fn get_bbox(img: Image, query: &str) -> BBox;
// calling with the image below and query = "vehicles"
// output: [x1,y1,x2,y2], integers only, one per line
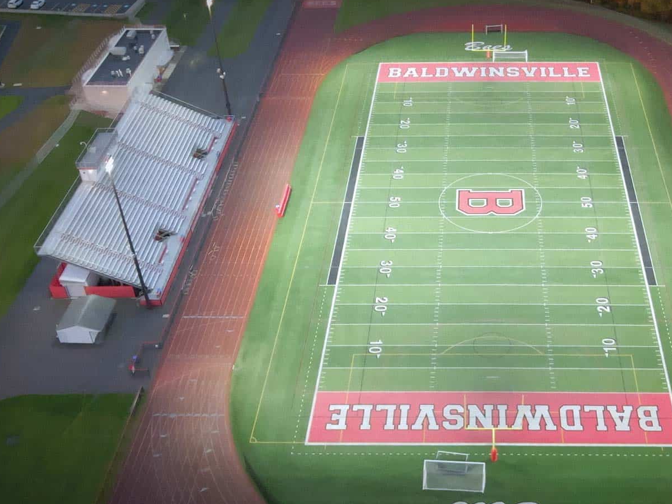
[8,0,24,6]
[31,0,47,7]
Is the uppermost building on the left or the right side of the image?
left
